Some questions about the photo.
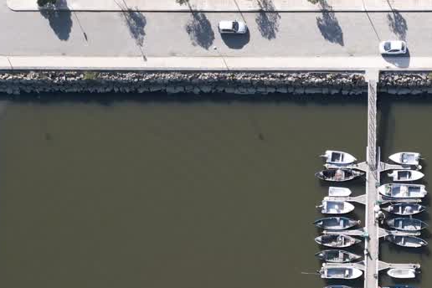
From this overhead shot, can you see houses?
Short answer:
No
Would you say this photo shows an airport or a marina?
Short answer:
marina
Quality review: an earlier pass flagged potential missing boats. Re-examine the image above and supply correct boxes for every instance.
[314,249,365,262]
[314,168,365,181]
[313,216,357,229]
[328,186,351,196]
[314,266,363,280]
[378,151,428,164]
[384,217,429,230]
[314,199,364,214]
[318,149,364,163]
[378,168,424,181]
[378,202,426,215]
[377,235,428,246]
[378,267,422,278]
[313,235,363,247]
[378,182,432,197]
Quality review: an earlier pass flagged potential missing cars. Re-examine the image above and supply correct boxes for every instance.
[219,19,248,36]
[380,40,408,56]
